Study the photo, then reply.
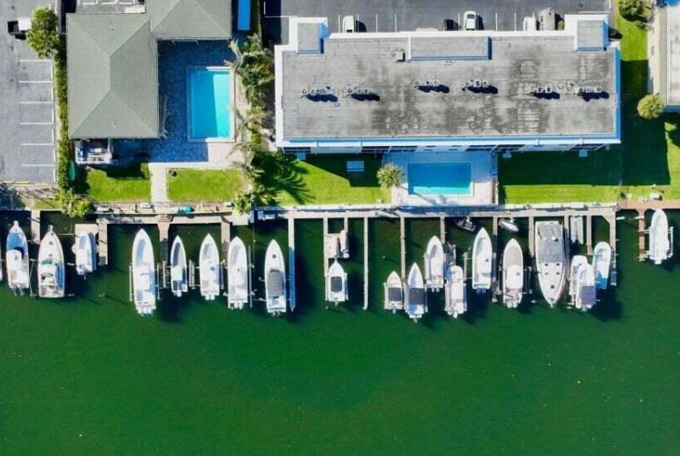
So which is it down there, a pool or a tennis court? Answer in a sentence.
Visible in the photo is a pool.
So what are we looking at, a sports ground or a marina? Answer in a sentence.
The picture captures a marina.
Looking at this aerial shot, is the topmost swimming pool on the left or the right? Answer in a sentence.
The topmost swimming pool sits on the left side.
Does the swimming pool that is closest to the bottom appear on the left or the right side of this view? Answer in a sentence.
The swimming pool that is closest to the bottom is on the right side of the image.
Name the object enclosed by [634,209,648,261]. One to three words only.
pier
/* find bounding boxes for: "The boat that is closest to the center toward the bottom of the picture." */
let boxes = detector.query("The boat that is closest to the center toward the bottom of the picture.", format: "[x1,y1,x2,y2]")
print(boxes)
[328,253,344,306]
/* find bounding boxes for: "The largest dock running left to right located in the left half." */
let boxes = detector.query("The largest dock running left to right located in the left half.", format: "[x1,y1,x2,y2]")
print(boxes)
[98,213,252,226]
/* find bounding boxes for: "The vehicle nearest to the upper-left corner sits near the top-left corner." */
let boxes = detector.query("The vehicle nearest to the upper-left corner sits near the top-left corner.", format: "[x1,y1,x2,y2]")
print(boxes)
[7,18,34,38]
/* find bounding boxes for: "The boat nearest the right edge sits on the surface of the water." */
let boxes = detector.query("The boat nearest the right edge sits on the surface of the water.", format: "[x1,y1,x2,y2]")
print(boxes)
[648,209,671,267]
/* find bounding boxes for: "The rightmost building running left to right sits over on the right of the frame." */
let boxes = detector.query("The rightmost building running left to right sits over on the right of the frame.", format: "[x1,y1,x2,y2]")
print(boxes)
[275,14,620,153]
